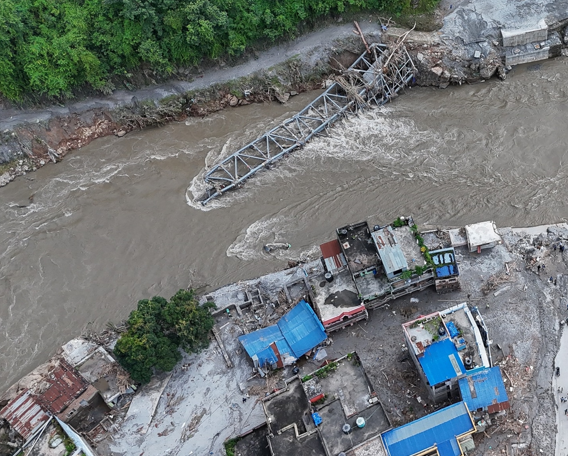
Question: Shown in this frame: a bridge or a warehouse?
bridge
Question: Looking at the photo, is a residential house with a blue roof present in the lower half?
Yes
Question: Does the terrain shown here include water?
Yes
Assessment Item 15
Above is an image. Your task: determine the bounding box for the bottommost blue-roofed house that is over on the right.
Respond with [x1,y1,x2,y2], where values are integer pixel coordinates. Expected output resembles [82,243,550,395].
[381,401,478,456]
